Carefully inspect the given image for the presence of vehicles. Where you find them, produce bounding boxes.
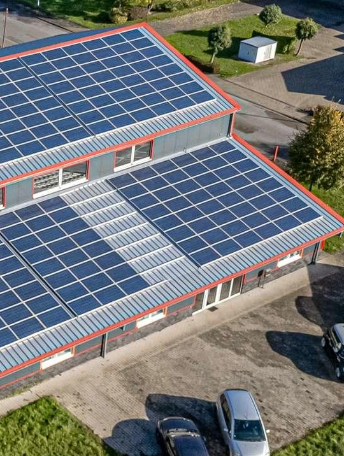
[153,412,205,456]
[318,321,344,380]
[204,383,269,456]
